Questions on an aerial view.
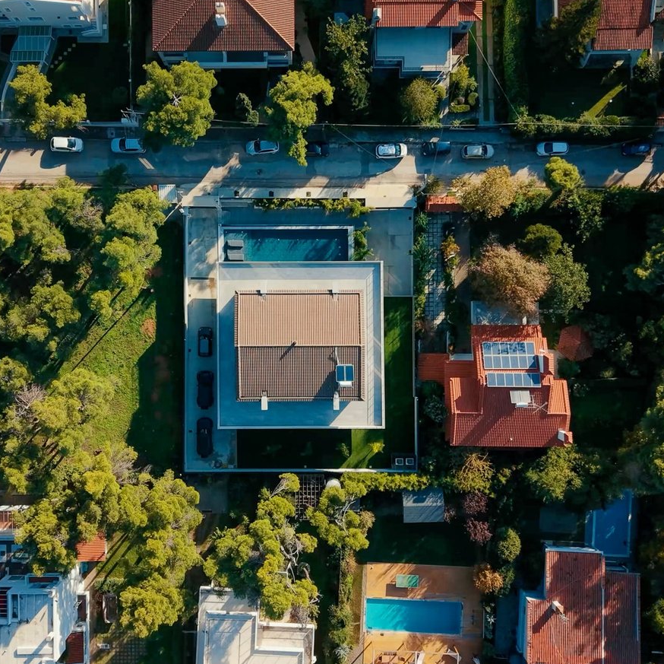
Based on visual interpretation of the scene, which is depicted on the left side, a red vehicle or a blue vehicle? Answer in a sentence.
You can see a blue vehicle on the left side.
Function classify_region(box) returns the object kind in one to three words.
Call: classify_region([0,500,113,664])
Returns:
house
